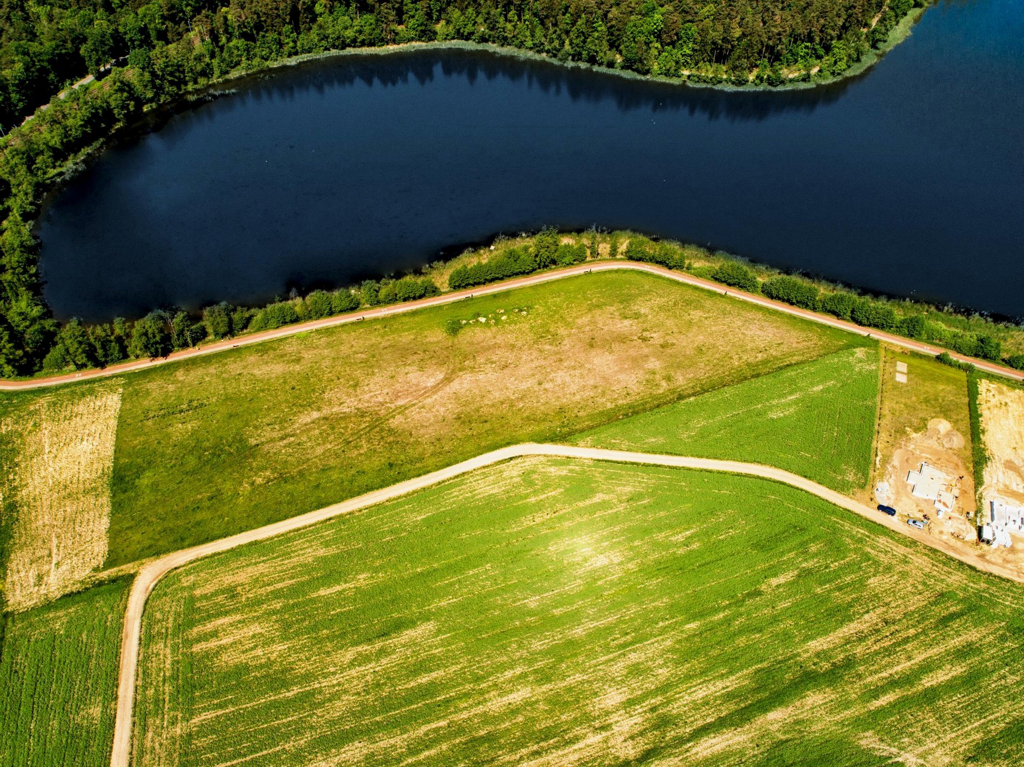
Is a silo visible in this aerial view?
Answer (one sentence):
No, I can see no silo in this picture.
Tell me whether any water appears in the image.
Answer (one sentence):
Yes, water can be seen from above here.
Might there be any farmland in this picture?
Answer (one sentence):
Yes, farmland can be seen from above here.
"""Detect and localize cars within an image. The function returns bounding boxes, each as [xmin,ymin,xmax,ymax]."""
[905,517,926,531]
[876,504,898,517]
